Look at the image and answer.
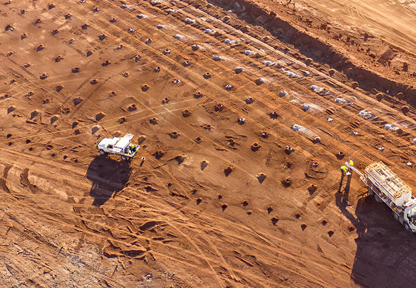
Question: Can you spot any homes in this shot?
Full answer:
No, no home is visible in the scene.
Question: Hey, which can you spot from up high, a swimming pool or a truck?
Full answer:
There is a truck in the scene.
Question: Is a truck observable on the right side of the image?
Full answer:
Yes, on the right side of the image there is a truck.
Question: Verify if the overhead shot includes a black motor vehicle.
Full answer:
No, I find no black motor vehicle anywhere in the image.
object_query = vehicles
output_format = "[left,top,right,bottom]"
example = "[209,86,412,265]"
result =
[91,130,139,161]
[351,153,416,237]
